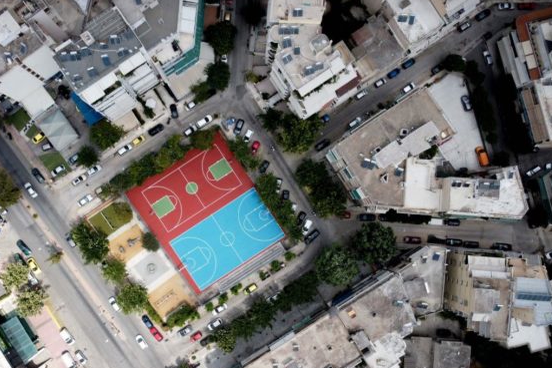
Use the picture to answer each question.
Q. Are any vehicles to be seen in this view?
Yes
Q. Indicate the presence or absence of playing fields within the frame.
Yes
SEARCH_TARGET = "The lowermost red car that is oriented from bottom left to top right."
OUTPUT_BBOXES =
[188,330,203,343]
